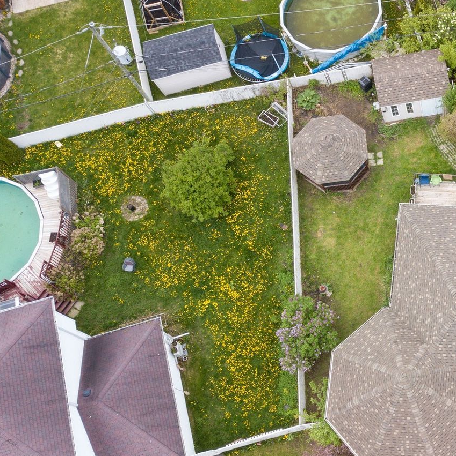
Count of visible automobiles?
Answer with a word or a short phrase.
zero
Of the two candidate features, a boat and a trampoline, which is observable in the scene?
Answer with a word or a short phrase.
trampoline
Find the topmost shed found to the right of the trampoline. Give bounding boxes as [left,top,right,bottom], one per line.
[371,47,451,126]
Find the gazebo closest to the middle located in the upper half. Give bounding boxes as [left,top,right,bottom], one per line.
[291,115,372,197]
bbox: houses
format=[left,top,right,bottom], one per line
[324,201,456,456]
[0,293,194,456]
